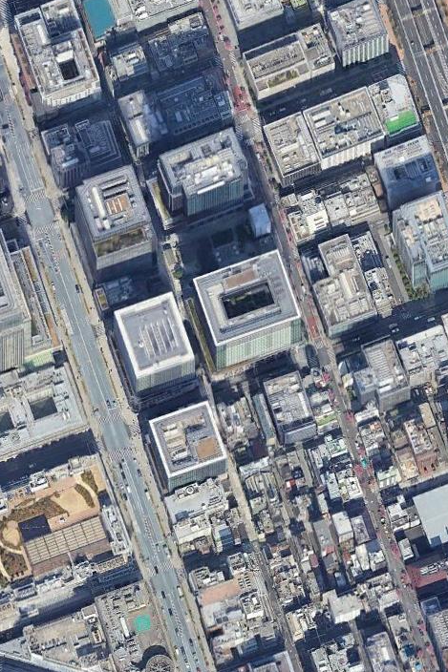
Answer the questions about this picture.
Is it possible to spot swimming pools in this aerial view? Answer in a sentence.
No, I can see no swimming pool in this picture.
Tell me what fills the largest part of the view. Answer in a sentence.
The largest share of the image is taken up by buildings.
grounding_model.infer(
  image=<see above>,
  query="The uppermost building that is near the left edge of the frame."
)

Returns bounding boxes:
[15,0,101,113]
